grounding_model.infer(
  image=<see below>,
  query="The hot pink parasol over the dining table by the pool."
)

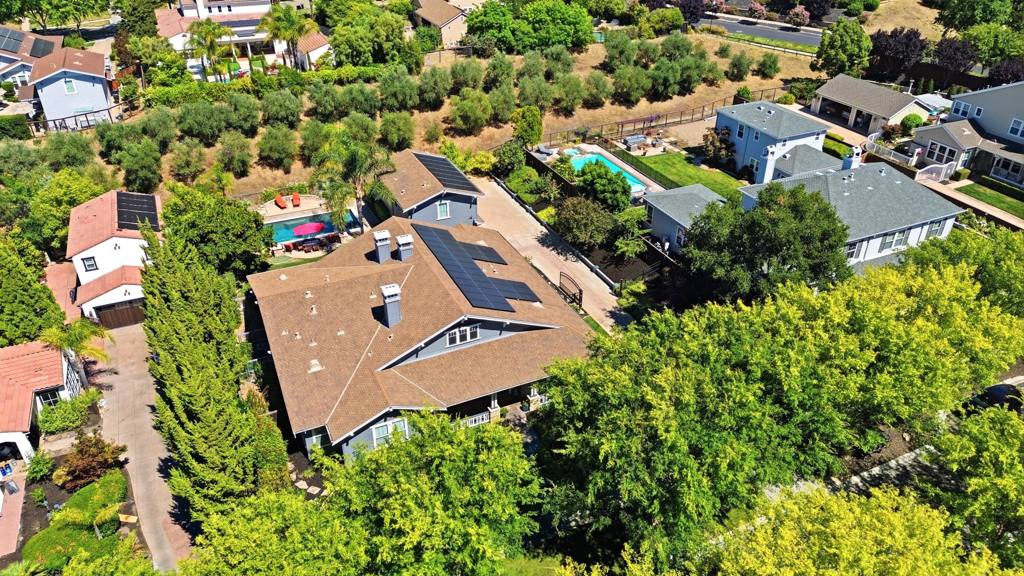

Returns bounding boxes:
[291,220,324,247]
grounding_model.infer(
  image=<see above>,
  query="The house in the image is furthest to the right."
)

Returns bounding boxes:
[911,82,1024,190]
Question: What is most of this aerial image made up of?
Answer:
trees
